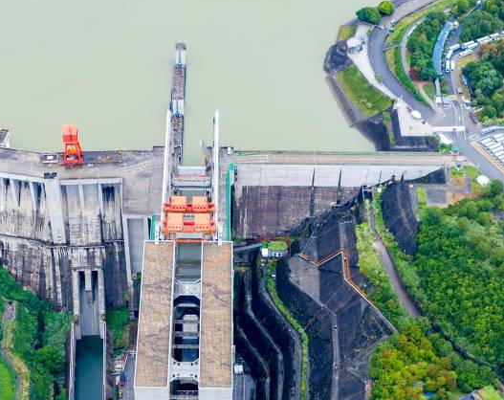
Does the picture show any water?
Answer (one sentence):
Yes, water shows up in the scene.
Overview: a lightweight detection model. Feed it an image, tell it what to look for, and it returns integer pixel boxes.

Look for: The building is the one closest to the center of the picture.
[260,242,288,259]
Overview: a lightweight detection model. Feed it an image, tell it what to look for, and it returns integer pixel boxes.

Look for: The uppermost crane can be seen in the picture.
[59,118,85,165]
